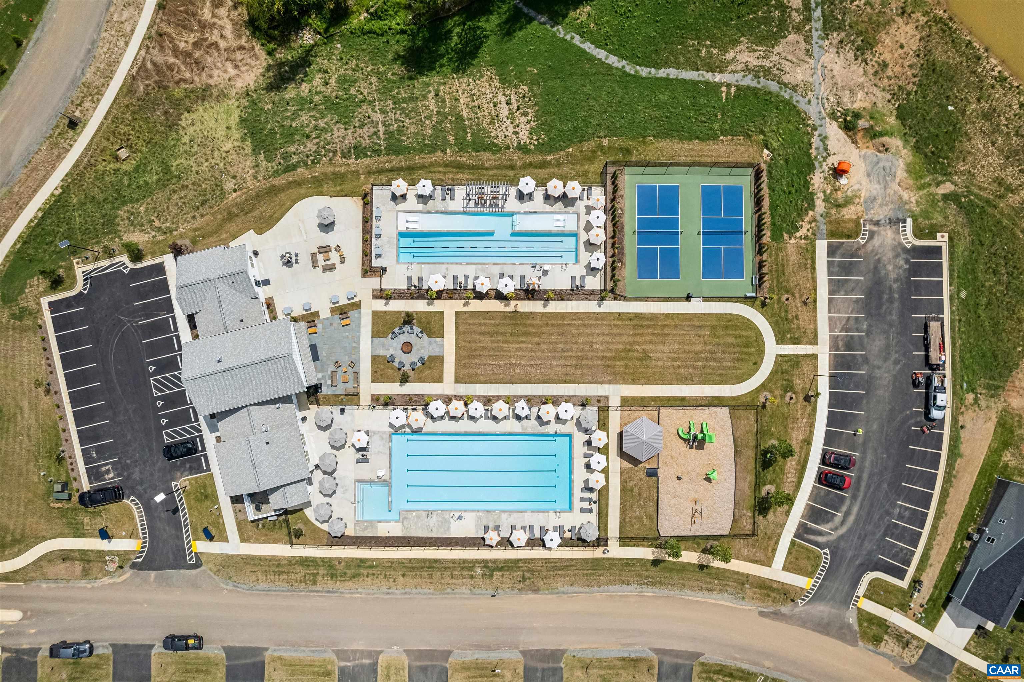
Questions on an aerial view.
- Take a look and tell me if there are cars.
Yes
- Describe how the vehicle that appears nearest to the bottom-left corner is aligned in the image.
horizontally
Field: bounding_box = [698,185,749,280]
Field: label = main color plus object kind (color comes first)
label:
blue sports court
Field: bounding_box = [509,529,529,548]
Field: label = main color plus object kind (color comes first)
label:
white umbrella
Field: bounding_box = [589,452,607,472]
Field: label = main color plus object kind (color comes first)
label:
white umbrella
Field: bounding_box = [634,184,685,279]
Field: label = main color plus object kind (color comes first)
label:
blue sports court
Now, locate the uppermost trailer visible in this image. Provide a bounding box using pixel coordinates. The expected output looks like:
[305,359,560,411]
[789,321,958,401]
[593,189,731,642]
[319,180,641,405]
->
[923,320,945,371]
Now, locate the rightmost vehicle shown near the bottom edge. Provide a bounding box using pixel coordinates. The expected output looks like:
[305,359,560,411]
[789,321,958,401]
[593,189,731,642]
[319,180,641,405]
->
[163,633,204,652]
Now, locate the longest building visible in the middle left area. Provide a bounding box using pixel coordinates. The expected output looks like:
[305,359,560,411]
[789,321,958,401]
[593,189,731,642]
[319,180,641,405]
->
[176,244,321,509]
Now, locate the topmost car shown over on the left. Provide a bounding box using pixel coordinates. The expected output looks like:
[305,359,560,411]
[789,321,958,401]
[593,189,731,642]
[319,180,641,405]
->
[164,440,200,461]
